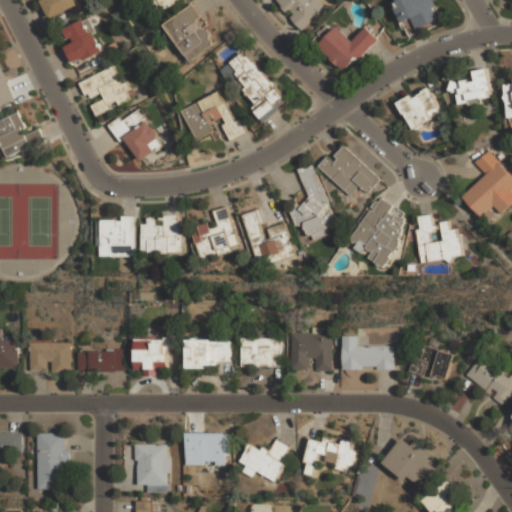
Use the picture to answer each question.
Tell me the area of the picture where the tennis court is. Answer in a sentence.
Look in the left portion of the view to spot the tennis court.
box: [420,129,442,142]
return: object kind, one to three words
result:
swimming pool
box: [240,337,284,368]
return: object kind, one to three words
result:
house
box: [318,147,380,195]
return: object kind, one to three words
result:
house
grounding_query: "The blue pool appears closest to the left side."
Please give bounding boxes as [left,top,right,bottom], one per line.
[218,46,240,62]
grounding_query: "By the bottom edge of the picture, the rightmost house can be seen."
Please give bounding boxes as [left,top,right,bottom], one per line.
[422,480,452,512]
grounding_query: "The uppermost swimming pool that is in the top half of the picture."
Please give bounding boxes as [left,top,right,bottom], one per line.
[350,3,365,28]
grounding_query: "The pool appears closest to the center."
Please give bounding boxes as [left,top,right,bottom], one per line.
[333,251,350,272]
